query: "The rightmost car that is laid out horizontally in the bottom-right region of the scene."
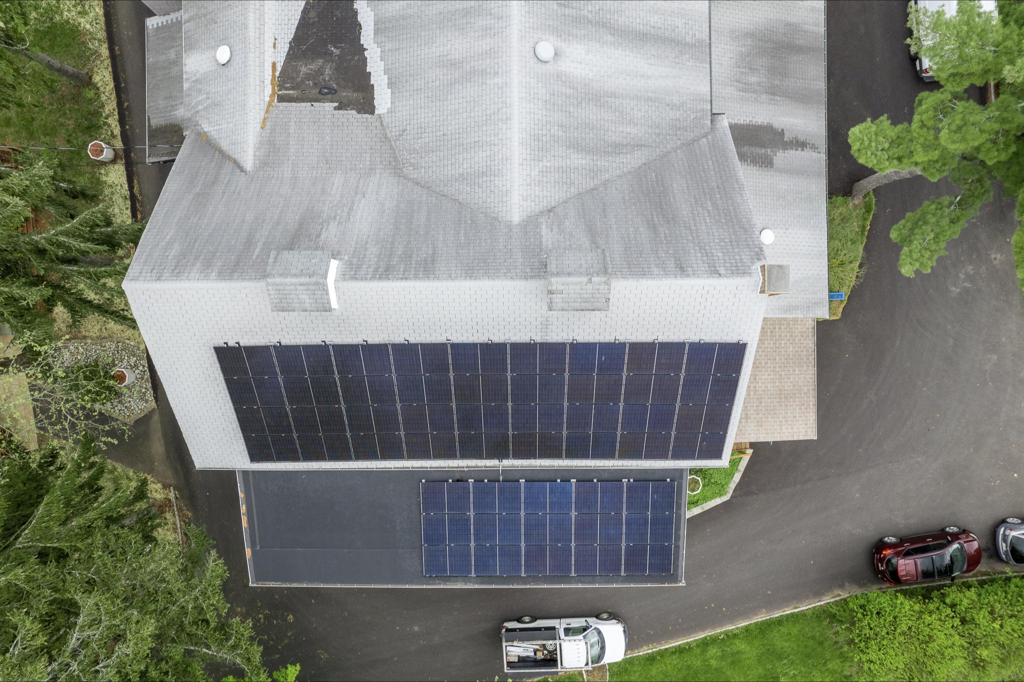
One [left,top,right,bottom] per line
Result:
[870,526,983,587]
